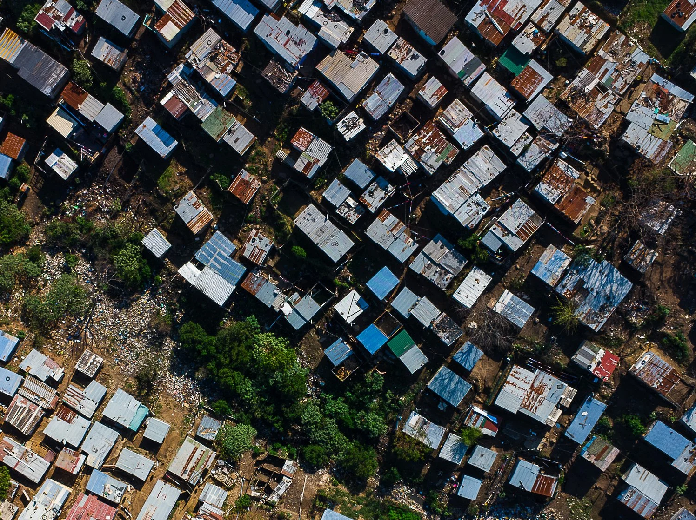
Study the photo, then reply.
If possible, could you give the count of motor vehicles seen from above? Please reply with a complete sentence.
There are no motor vehicles in the image.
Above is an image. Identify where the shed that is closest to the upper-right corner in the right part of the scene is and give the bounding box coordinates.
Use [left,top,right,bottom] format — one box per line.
[656,0,696,37]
